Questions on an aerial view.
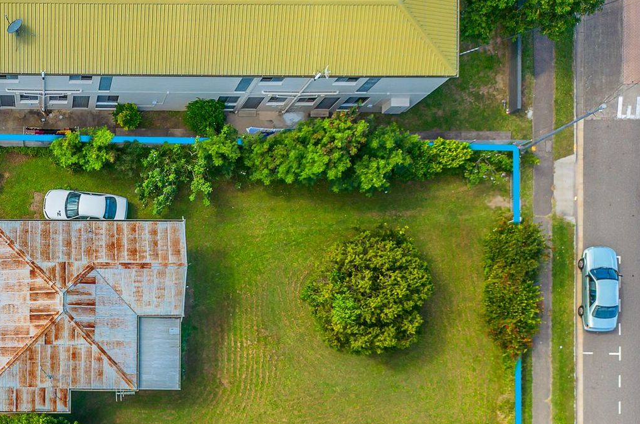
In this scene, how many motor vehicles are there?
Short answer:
two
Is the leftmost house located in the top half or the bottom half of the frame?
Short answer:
bottom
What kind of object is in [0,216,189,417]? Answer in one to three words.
house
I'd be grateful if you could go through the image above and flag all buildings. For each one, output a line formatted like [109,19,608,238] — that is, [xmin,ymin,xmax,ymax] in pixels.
[0,216,189,417]
[0,0,463,116]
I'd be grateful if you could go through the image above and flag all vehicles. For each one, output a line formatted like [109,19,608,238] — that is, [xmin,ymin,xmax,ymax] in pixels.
[581,248,632,334]
[43,185,130,217]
